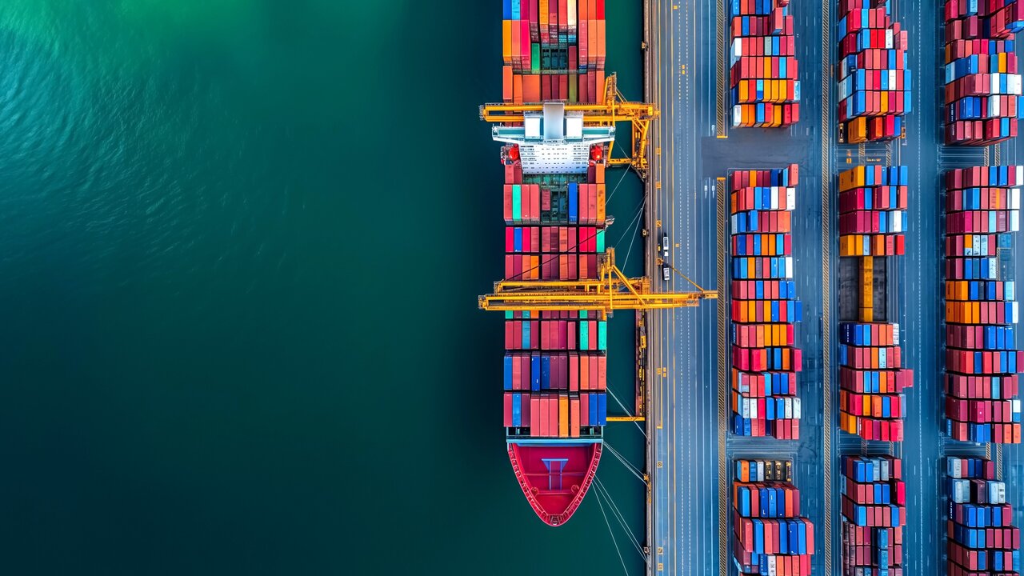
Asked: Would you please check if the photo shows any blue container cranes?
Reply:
No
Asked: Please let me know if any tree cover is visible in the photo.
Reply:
No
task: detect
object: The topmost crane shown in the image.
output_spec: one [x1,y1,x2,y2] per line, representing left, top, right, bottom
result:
[479,68,660,171]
